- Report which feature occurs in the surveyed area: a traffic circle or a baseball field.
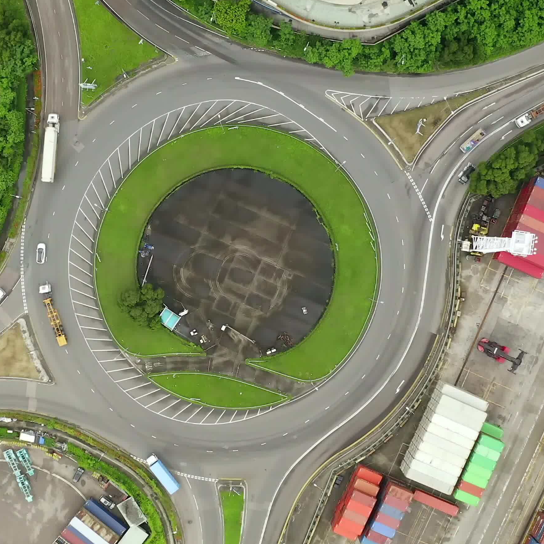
traffic circle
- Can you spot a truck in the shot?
Yes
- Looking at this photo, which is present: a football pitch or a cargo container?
cargo container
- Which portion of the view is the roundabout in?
center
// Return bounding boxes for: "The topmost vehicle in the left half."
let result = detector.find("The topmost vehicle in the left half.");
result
[48,115,60,141]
